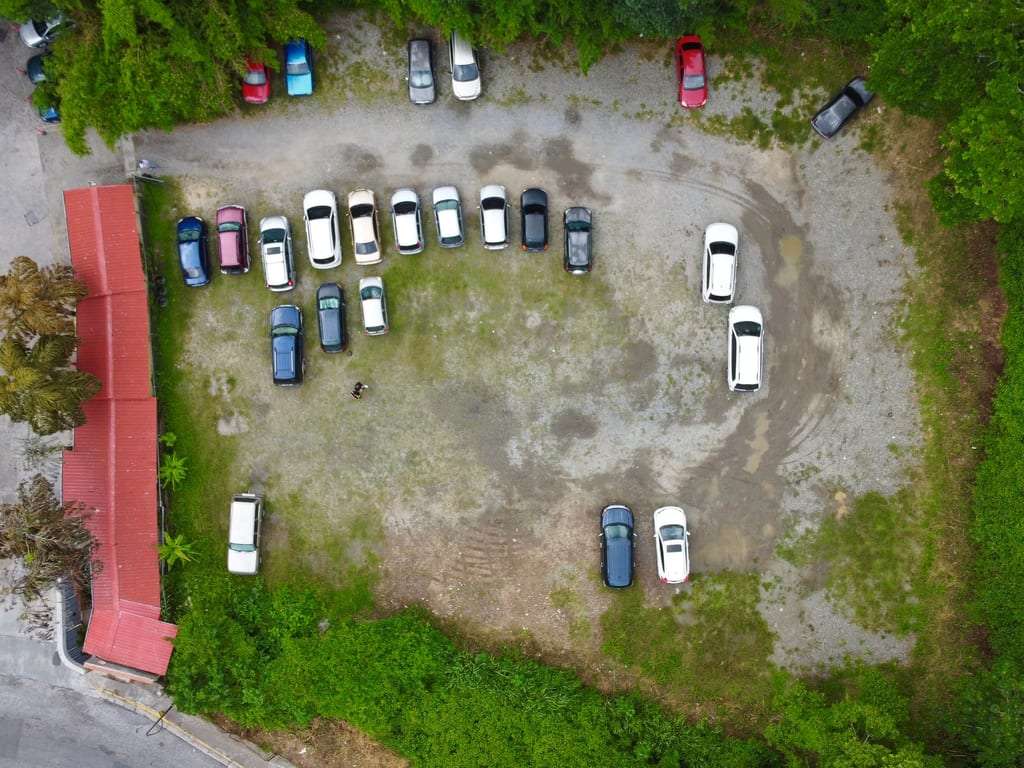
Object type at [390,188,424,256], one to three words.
car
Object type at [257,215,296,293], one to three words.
car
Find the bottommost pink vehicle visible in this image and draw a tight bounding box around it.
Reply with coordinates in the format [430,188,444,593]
[215,205,251,276]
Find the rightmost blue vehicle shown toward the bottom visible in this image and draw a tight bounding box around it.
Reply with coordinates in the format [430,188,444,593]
[601,504,637,588]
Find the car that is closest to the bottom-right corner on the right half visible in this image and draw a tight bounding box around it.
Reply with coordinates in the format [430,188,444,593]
[654,504,690,584]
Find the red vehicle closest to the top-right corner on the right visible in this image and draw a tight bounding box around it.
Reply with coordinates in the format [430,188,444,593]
[674,34,710,110]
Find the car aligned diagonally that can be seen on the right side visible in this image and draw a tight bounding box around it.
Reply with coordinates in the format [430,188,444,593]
[810,75,871,140]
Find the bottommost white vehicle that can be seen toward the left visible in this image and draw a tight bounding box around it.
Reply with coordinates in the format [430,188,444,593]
[227,495,262,575]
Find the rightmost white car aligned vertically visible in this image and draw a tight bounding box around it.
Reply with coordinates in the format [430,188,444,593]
[702,222,740,304]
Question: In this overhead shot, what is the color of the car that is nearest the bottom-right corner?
white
